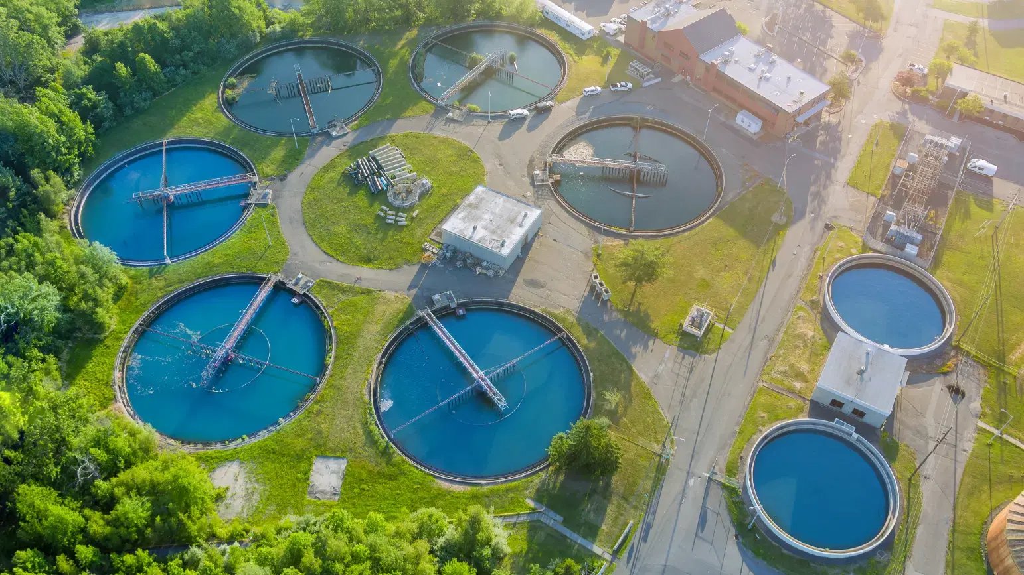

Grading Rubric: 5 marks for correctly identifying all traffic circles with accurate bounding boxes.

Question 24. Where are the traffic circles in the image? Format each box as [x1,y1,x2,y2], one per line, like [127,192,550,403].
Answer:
[302,131,486,269]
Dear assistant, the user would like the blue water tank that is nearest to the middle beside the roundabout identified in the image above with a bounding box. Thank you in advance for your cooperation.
[368,289,595,487]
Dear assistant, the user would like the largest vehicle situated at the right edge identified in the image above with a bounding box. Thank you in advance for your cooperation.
[969,158,1001,175]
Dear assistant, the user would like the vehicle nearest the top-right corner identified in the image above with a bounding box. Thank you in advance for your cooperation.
[907,62,931,74]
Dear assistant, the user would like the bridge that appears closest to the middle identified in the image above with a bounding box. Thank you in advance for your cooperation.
[417,303,509,412]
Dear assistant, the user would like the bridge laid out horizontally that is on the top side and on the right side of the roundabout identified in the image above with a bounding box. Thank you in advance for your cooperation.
[545,151,667,176]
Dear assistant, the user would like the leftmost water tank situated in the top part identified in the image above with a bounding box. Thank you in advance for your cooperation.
[66,135,273,268]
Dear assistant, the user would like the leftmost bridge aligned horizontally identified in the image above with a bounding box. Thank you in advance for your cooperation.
[132,171,262,204]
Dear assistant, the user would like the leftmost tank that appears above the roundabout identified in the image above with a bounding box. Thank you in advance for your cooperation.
[216,36,384,139]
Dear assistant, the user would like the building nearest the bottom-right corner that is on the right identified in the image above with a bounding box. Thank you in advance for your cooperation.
[810,331,910,430]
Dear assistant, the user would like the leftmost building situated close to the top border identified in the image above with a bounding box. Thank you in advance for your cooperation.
[621,0,832,139]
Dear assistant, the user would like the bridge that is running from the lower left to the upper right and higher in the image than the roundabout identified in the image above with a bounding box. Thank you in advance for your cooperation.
[435,46,505,107]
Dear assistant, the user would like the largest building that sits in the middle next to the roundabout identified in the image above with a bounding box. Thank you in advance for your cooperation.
[434,184,542,272]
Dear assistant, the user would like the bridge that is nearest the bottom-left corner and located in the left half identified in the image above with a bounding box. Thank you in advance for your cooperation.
[197,269,284,390]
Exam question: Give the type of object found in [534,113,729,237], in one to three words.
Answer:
water tank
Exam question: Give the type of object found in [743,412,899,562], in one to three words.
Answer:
water tank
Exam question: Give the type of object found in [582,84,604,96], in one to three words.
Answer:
vehicle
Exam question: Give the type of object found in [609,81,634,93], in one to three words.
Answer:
vehicle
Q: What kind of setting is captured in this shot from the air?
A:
industrial area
